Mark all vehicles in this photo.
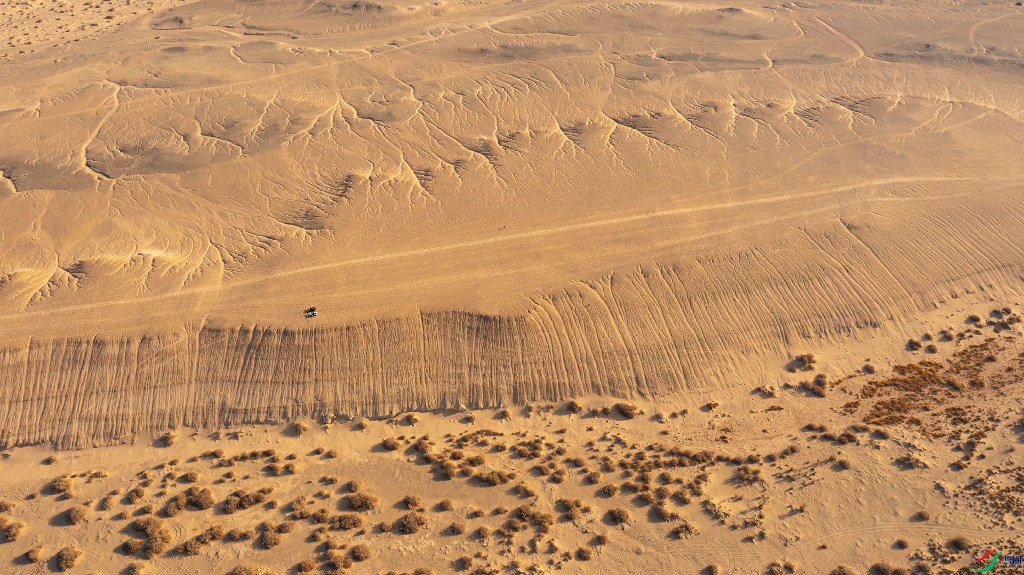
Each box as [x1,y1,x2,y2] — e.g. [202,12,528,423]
[308,306,317,312]
[309,311,318,316]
